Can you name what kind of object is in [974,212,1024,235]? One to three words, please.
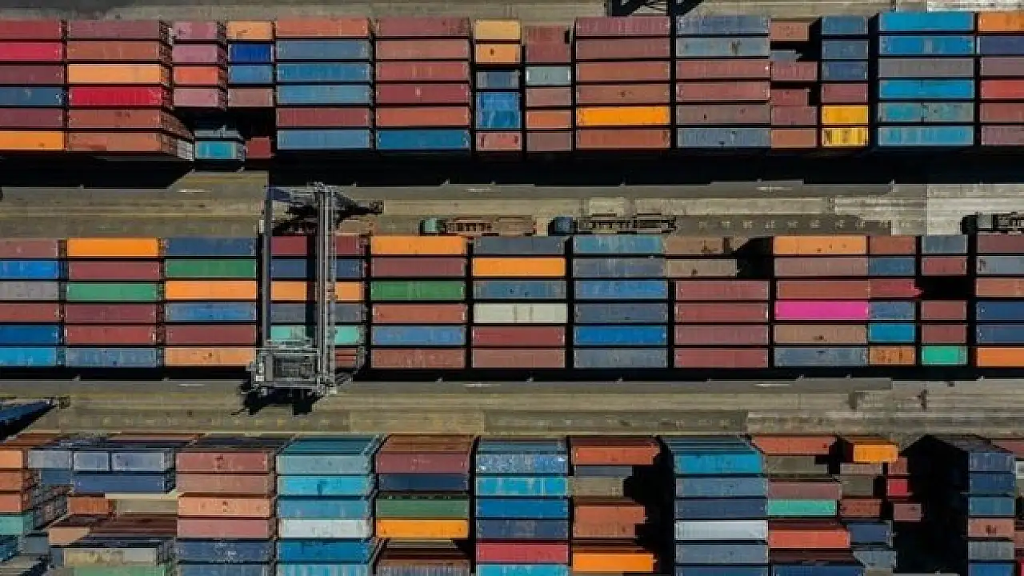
truck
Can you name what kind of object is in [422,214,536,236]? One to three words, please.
truck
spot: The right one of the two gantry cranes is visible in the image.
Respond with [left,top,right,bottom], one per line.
[252,183,386,399]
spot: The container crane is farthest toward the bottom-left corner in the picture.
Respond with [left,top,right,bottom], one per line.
[0,396,70,421]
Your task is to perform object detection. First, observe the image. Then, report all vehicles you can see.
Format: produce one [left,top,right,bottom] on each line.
[551,213,676,236]
[974,212,1024,235]
[422,214,536,236]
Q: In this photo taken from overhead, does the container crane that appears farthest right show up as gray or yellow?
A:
gray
